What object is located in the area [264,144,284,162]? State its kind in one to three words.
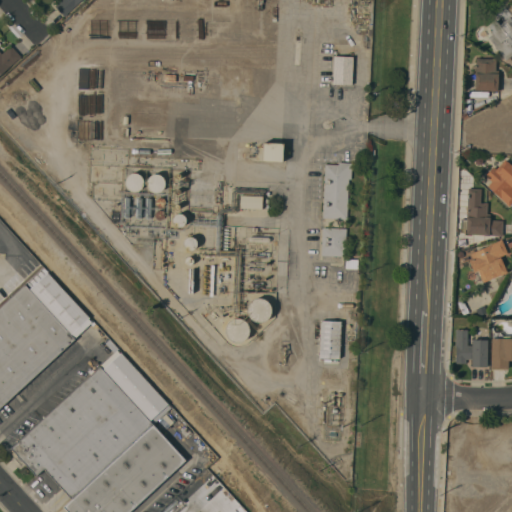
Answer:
building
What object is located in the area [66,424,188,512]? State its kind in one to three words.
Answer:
building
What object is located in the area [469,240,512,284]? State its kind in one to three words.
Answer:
house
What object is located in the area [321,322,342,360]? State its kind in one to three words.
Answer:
shed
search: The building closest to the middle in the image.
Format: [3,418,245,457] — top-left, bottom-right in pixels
[240,196,263,209]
